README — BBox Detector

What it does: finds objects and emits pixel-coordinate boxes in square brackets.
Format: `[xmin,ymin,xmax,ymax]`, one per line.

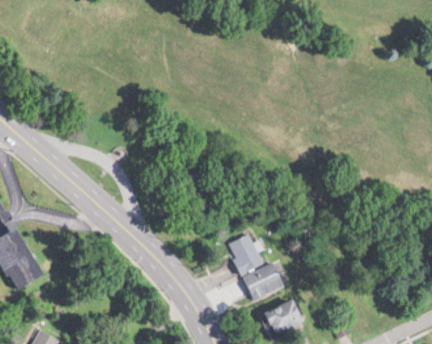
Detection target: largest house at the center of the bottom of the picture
[228,236,284,302]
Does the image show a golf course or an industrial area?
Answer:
golf course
